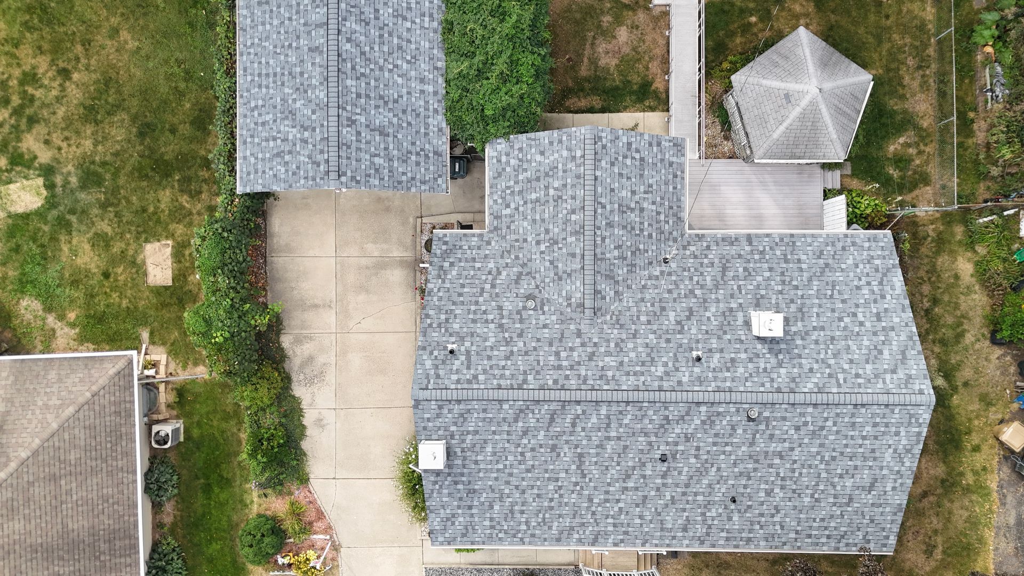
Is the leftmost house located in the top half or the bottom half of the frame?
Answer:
bottom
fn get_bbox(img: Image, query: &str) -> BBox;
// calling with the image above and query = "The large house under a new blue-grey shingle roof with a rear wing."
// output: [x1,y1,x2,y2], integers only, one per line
[409,127,936,555]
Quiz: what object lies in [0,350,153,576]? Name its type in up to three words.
house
